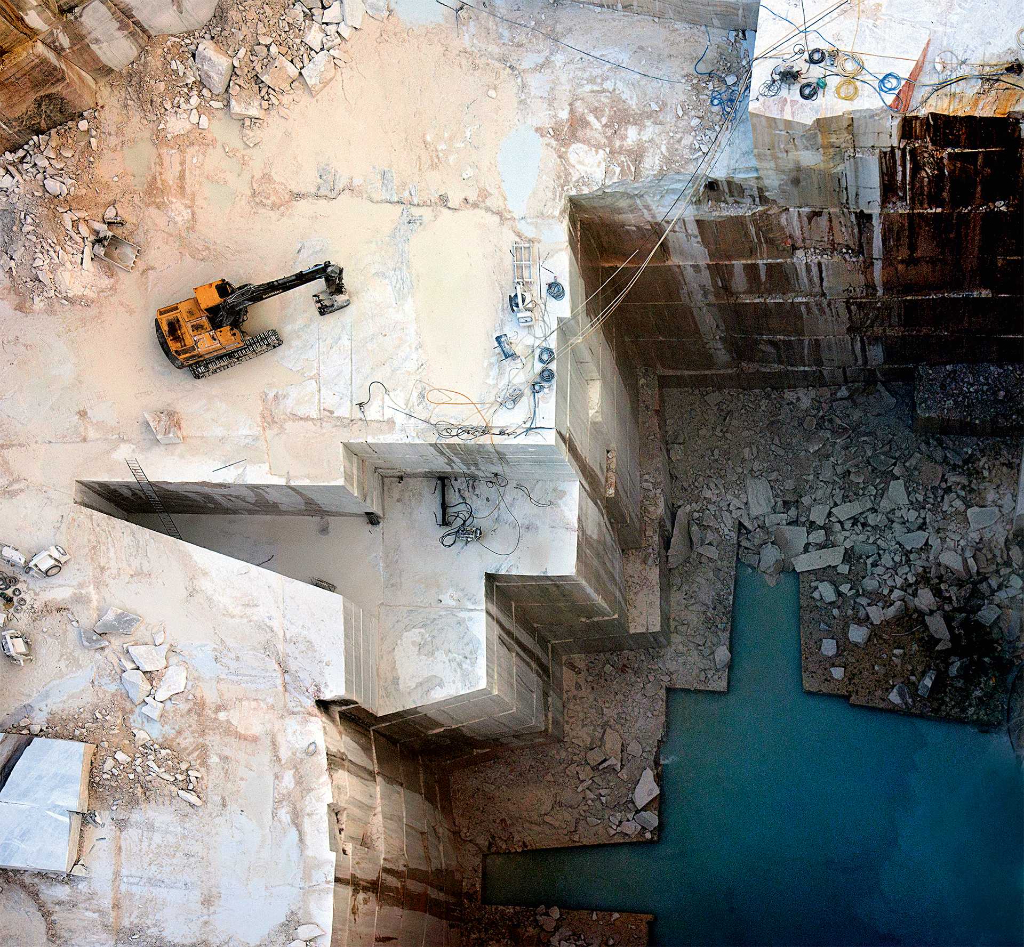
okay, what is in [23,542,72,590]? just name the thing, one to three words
trailer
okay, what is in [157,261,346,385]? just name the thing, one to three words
work vehicle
